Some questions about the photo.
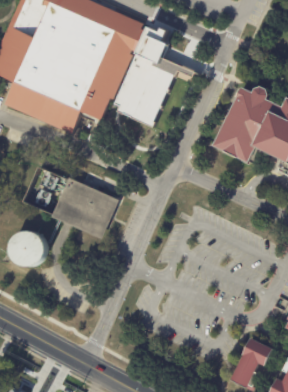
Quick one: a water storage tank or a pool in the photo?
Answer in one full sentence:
It is a water storage tank that can be seen here.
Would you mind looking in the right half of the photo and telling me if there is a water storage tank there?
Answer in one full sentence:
No, no water storage tank can be made out in the right half of the photo.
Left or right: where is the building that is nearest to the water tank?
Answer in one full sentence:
The building that is nearest to the water tank appears in the left half of the scene.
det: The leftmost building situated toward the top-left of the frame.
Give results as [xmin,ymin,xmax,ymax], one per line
[0,0,144,133]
